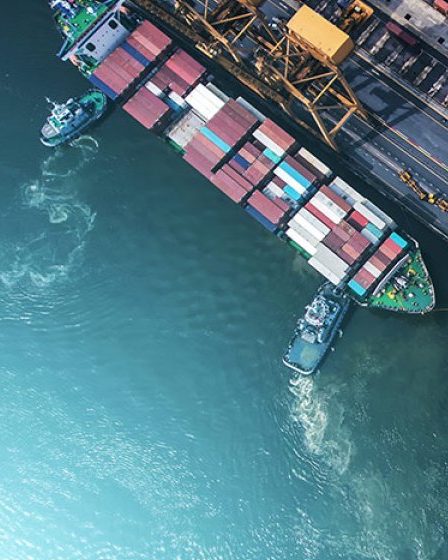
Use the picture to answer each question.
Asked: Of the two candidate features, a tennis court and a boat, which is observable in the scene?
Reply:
boat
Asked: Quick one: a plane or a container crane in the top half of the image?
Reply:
container crane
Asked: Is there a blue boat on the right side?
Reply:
Yes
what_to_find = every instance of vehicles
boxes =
[394,170,439,205]
[435,197,448,212]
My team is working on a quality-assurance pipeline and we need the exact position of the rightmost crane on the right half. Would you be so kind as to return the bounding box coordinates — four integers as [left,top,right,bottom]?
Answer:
[340,0,391,61]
